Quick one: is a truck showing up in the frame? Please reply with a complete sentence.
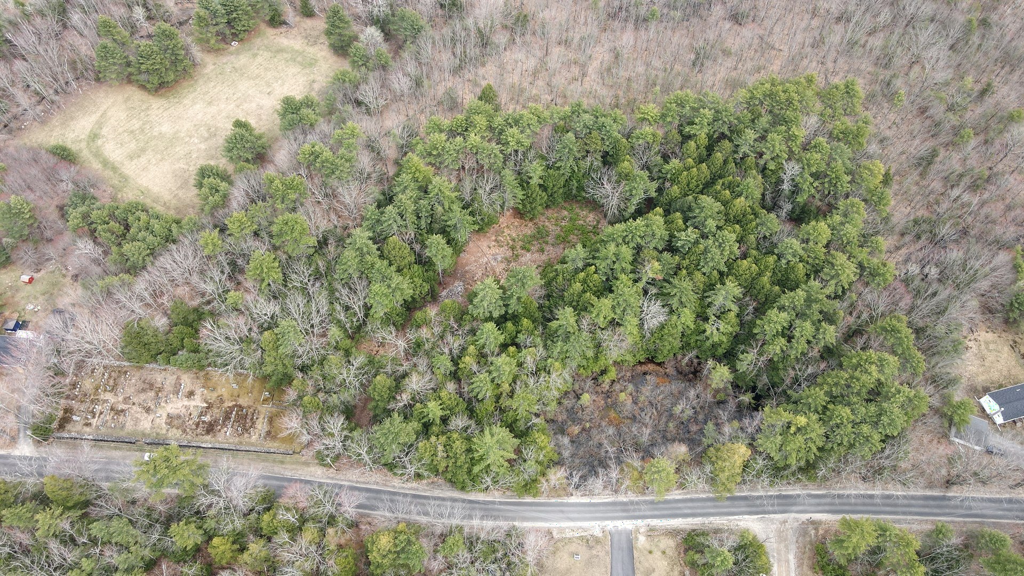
No, I can see no truck in this picture.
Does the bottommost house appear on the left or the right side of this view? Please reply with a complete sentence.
It is on the right.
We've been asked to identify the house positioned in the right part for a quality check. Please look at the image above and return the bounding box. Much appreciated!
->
[980,379,1024,424]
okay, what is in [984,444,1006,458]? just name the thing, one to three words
car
